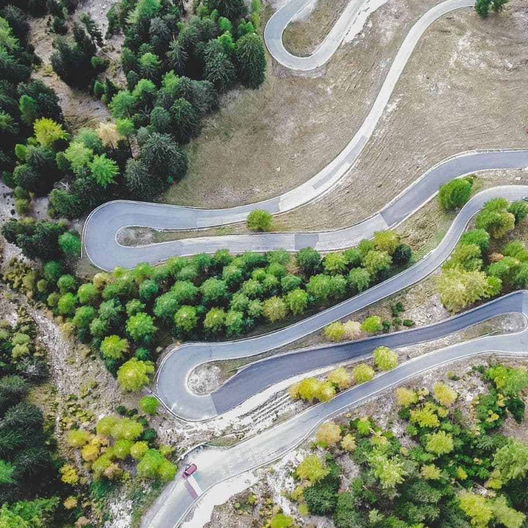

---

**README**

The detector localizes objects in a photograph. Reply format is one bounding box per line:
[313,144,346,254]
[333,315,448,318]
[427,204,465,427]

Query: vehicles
[523,194,528,202]
[181,464,198,481]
